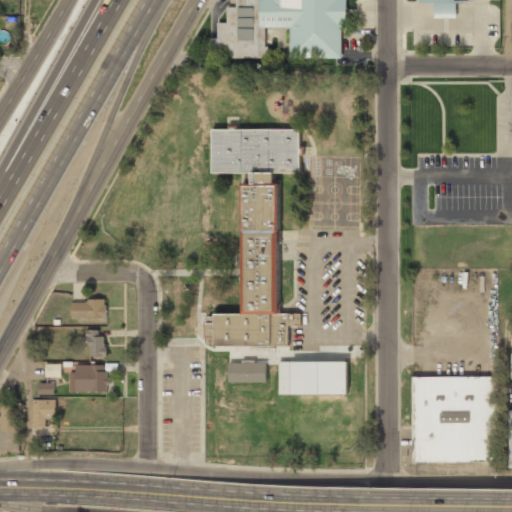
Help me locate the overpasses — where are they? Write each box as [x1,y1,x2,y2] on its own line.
[0,472,512,512]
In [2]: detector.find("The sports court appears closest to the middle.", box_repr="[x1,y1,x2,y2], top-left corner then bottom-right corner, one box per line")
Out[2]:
[309,157,361,228]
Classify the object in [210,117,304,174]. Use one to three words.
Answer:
building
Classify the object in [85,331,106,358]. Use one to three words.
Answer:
house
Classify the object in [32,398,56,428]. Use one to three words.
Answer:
house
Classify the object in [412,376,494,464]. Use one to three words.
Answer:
building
